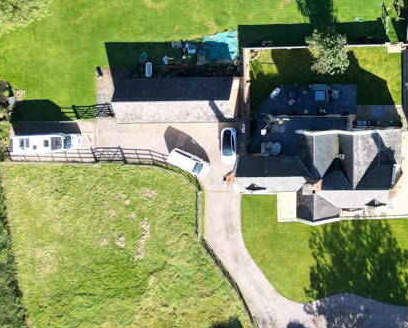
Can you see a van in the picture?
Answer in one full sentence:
Yes, the picture does show a van.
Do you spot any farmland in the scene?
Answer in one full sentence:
Yes, there's farmland in this view.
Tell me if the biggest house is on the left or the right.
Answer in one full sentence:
It is on the right.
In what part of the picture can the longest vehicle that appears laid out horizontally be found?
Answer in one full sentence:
The longest vehicle that appears laid out horizontally is located in the left region of the scene.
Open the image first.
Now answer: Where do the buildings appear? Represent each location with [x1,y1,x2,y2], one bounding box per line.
[222,131,407,223]
[100,76,245,122]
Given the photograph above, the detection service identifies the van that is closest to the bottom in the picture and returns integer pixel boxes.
[168,146,213,176]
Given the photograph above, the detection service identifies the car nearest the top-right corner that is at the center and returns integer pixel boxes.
[220,128,239,163]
